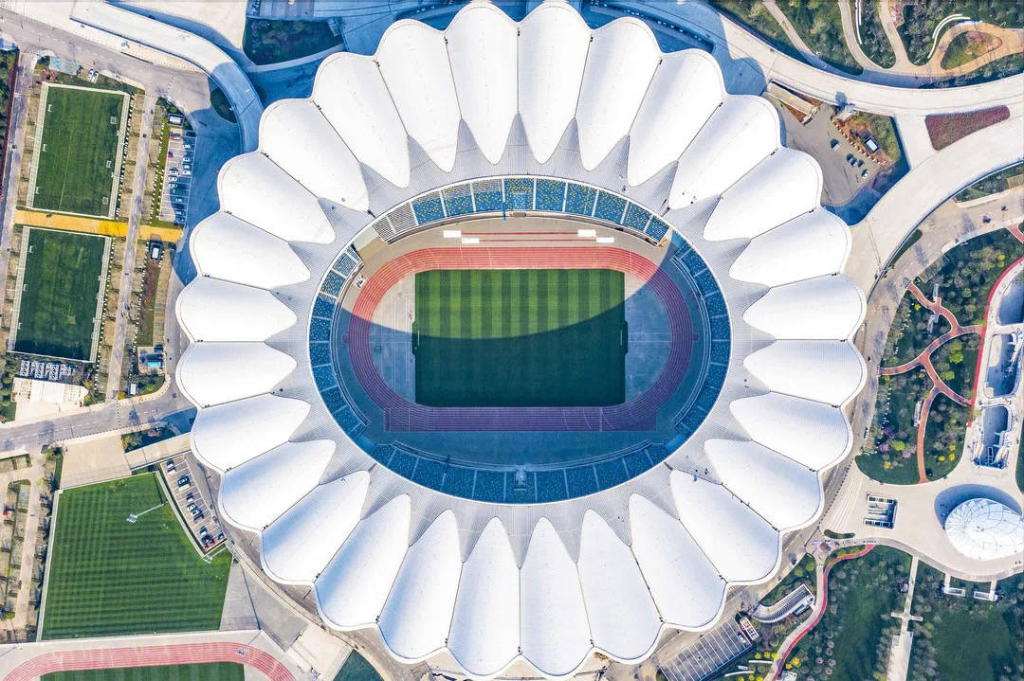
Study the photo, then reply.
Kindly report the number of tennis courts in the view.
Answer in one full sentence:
There are no tennis courts in this view.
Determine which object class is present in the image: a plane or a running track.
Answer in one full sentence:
There is a running track in the scene.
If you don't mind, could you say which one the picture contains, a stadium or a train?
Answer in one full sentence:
Visible in the photo is a stadium.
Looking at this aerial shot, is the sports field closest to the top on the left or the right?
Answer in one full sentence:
The sports field closest to the top is on the left side of the image.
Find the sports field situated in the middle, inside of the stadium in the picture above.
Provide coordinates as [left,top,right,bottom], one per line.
[414,269,628,407]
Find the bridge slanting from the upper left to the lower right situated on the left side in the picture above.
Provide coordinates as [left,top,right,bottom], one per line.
[68,0,265,149]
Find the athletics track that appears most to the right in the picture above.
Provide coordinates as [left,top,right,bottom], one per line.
[341,248,701,433]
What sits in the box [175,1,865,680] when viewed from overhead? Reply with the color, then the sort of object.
white stadium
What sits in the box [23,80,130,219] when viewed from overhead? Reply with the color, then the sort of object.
green sports field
